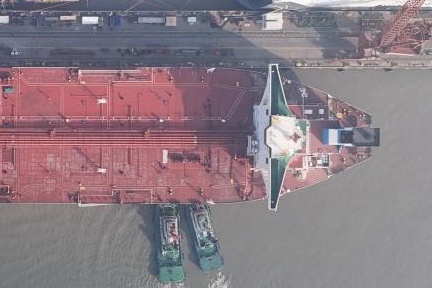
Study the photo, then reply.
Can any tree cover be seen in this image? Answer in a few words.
No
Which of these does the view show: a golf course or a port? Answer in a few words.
port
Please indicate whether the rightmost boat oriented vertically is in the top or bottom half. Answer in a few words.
bottom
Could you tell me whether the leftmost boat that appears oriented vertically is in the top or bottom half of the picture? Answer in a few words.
bottom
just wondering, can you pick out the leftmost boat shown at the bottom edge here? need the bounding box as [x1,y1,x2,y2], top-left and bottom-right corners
[152,204,184,284]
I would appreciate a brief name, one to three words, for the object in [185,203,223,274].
boat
